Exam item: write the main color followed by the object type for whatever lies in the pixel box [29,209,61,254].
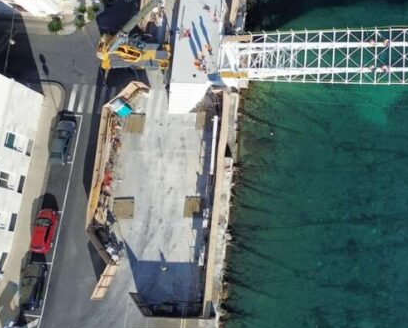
red car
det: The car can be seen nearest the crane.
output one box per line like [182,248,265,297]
[47,120,77,166]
